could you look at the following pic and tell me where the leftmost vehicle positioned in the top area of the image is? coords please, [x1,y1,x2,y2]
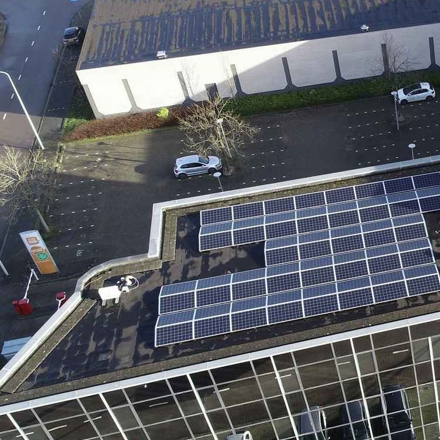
[61,22,82,42]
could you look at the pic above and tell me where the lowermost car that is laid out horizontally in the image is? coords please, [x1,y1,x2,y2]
[170,150,221,175]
